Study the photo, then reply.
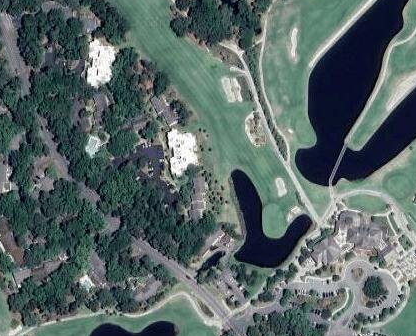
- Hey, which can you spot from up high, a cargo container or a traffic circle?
traffic circle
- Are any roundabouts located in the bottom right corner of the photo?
Yes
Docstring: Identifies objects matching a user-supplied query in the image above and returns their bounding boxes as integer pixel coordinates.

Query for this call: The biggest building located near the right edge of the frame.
[333,208,397,257]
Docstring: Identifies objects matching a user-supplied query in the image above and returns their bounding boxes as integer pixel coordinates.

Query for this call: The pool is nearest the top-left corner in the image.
[84,135,102,155]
